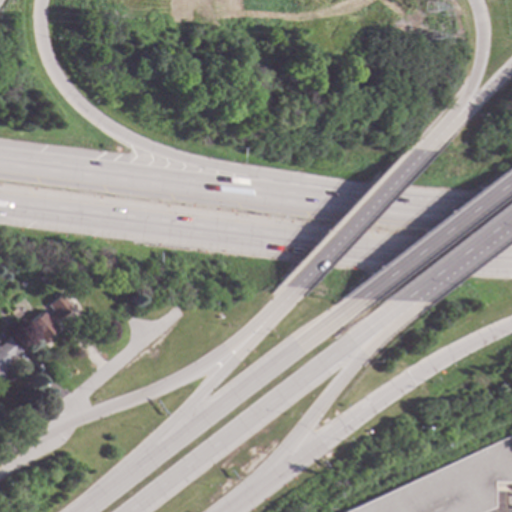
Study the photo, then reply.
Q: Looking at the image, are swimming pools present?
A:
No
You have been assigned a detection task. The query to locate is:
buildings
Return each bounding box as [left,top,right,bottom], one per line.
[32,310,59,344]
[342,434,512,512]
[14,298,32,318]
[0,336,25,368]
[53,289,82,315]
